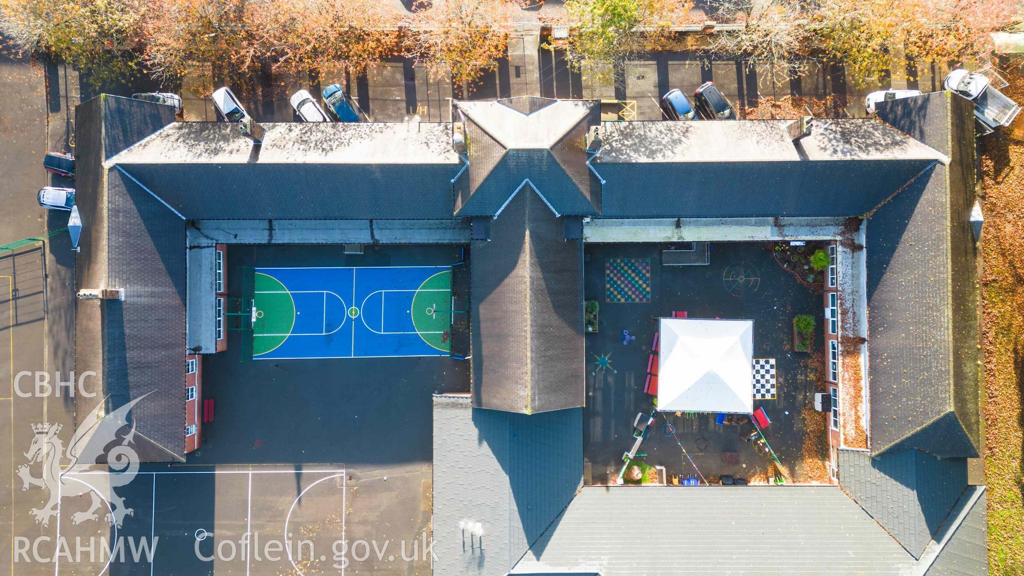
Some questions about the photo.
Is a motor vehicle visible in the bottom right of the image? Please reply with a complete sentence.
No, I see no motor vehicle in the bottom right of the image.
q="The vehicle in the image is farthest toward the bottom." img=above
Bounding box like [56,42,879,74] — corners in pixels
[35,187,74,212]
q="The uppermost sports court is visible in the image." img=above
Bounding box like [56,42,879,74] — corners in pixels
[253,266,452,359]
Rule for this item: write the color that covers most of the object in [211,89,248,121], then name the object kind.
white car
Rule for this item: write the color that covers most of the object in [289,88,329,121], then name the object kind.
white car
